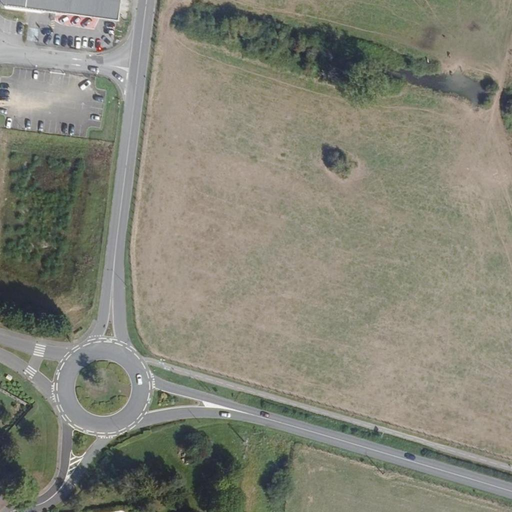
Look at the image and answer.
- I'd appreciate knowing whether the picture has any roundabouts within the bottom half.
Yes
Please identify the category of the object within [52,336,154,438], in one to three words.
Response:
roundabout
